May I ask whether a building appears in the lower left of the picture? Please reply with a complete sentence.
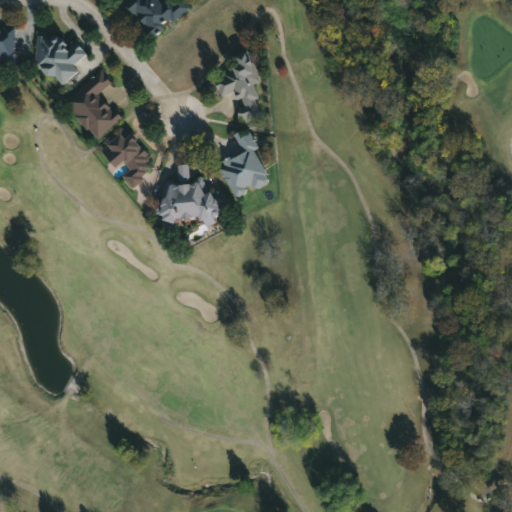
No, I can find no building in the lower left of the picture.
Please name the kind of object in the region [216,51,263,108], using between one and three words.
house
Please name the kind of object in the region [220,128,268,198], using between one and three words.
house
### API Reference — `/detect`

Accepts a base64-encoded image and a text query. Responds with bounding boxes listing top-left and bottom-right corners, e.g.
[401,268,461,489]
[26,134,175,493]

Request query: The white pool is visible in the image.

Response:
[189,224,209,242]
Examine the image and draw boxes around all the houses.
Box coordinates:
[216,51,263,108]
[156,164,219,228]
[0,26,16,58]
[106,134,151,190]
[127,0,192,37]
[220,128,268,198]
[35,34,87,84]
[71,68,123,140]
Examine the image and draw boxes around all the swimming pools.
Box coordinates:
[189,224,209,242]
[114,166,128,179]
